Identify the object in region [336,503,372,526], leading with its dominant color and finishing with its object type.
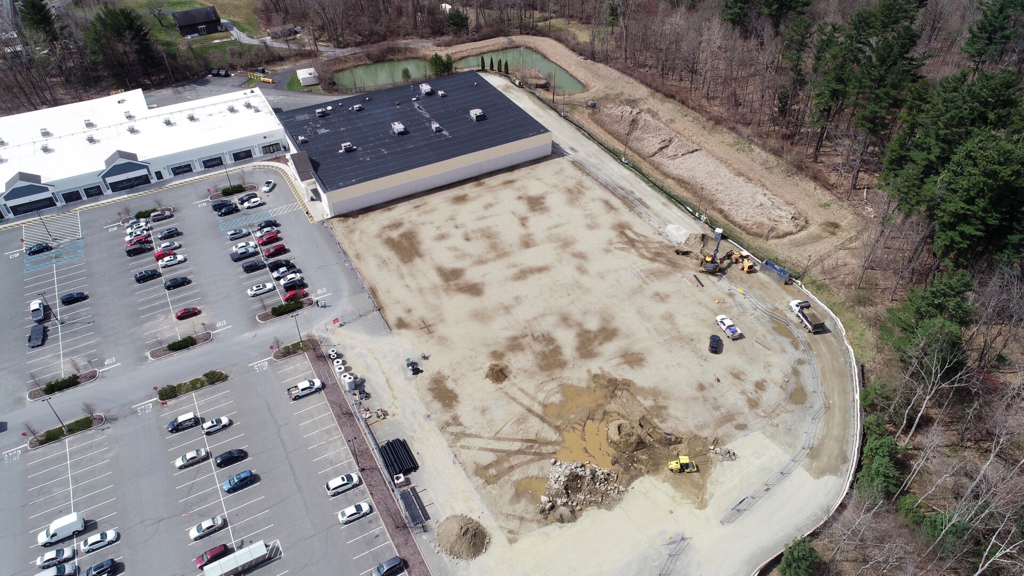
white car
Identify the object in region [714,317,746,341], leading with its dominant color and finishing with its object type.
white truck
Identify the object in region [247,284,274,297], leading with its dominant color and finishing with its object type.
white vehicle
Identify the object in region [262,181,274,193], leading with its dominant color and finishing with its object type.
white vehicle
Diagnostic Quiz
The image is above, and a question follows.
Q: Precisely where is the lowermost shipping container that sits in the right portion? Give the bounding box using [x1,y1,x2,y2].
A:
[758,259,791,285]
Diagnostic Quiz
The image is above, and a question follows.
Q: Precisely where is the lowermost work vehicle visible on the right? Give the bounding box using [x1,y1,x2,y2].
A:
[663,453,700,475]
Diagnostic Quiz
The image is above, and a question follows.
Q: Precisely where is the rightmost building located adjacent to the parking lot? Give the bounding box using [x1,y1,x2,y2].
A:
[279,68,552,217]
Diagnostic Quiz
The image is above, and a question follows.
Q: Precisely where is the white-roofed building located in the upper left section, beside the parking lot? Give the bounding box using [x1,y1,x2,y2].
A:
[0,86,290,219]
